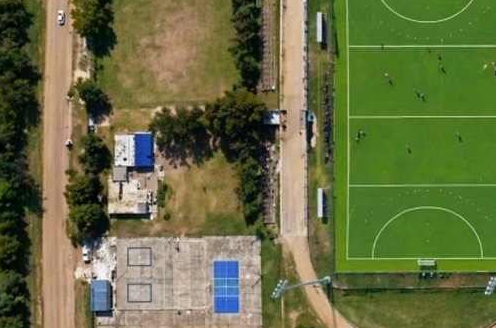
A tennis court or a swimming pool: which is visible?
tennis court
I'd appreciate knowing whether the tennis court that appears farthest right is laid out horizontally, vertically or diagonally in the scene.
vertically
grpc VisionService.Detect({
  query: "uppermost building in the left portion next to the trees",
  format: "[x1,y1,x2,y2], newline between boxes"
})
[114,133,163,182]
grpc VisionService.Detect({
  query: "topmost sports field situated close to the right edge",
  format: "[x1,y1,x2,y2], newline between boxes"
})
[335,0,496,273]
